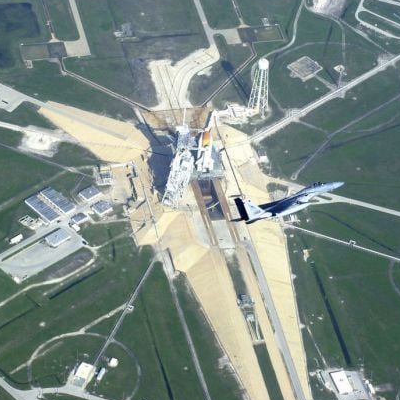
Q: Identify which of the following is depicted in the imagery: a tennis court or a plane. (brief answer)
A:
plane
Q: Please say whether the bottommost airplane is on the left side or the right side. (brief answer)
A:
right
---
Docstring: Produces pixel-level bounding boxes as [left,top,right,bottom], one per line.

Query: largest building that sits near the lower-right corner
[331,370,354,396]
